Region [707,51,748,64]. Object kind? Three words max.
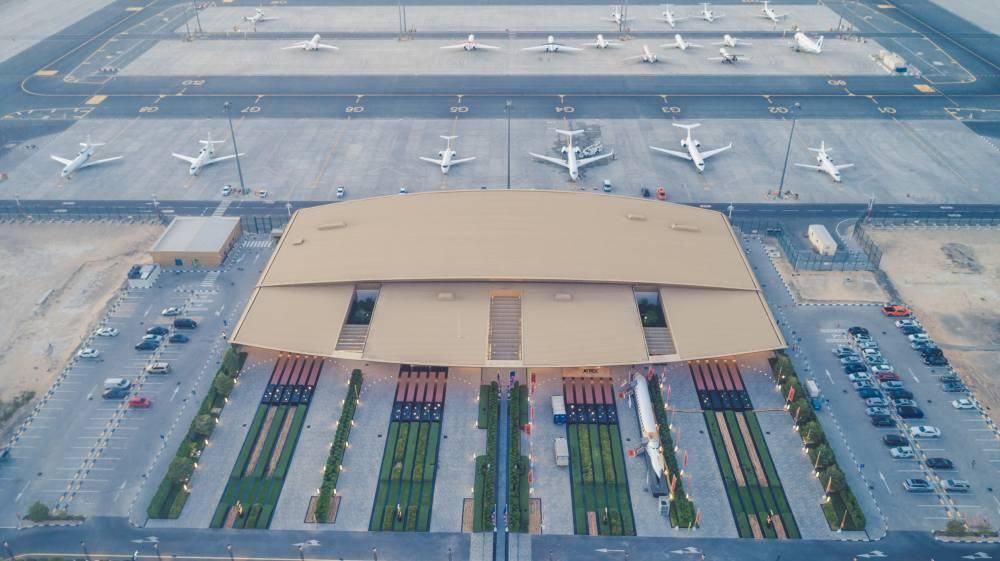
airplane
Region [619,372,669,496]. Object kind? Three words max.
airplane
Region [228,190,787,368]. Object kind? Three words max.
building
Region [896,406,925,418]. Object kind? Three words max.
vehicle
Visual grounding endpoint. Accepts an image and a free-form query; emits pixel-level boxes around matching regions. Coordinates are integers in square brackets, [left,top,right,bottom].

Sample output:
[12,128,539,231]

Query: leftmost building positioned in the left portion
[146,216,242,270]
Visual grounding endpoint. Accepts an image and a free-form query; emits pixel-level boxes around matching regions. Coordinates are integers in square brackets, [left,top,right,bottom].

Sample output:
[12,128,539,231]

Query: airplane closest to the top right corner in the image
[780,32,846,52]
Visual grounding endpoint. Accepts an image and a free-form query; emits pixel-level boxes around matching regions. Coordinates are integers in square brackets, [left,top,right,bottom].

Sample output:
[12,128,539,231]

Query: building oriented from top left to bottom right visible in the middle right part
[801,218,840,252]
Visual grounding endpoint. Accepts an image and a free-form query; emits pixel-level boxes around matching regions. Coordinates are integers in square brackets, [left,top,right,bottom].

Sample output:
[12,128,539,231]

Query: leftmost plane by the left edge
[48,134,125,179]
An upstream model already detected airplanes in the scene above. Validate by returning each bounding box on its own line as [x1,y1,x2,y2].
[529,130,614,181]
[48,134,125,179]
[619,372,669,496]
[648,123,733,174]
[780,32,846,52]
[707,51,748,64]
[522,36,583,52]
[710,36,750,49]
[690,4,726,25]
[754,9,791,25]
[601,13,636,27]
[171,131,245,176]
[794,141,854,185]
[661,39,701,52]
[419,136,476,178]
[650,7,687,28]
[278,36,339,52]
[583,37,623,50]
[439,35,499,51]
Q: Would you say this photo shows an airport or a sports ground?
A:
airport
